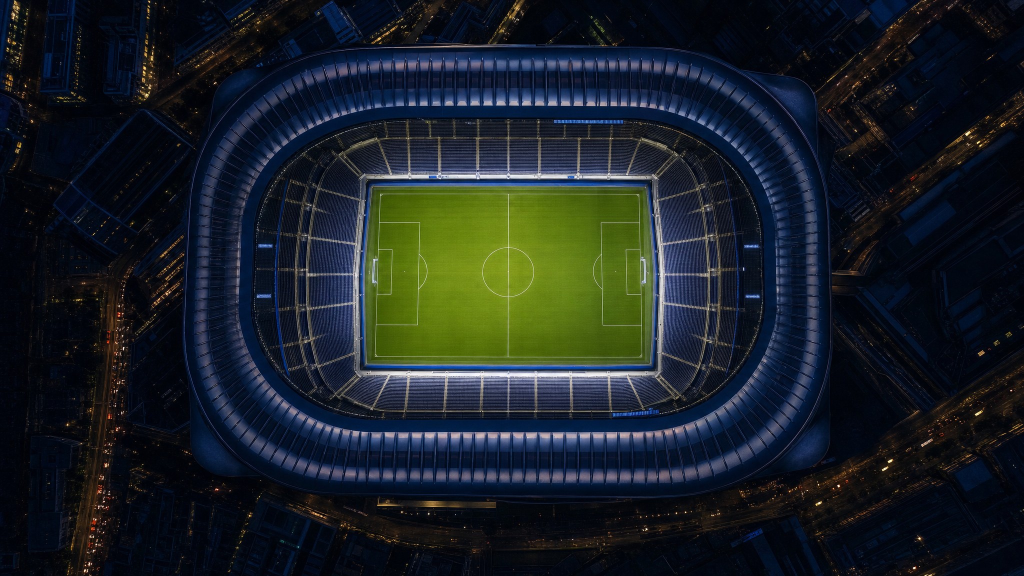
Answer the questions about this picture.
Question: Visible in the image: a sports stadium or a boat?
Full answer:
Visible in the photo is a sports stadium.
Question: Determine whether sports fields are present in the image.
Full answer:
Yes, the photo shows a sports field.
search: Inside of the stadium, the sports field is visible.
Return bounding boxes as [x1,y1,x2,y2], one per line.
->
[370,191,648,360]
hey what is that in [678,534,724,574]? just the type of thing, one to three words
house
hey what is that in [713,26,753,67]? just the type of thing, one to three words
building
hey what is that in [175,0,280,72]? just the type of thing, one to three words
building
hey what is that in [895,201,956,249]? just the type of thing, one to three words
shed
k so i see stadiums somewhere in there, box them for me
[182,43,832,503]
